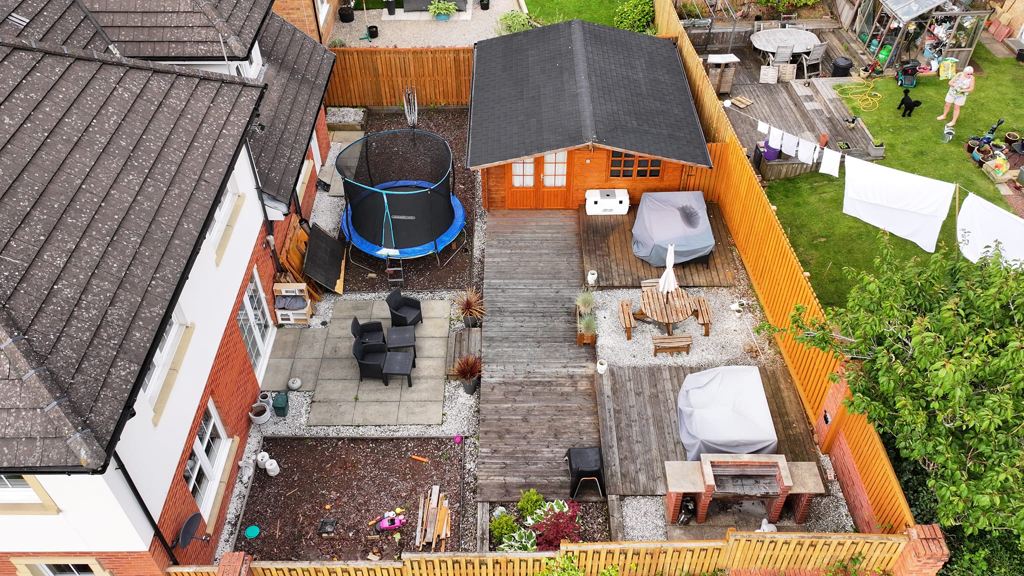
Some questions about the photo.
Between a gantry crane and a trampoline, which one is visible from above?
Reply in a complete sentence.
The one in the frame is a trampoline.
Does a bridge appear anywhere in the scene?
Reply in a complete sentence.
No, I find no bridge anywhere in the image.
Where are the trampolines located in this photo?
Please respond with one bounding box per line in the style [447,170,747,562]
[335,132,467,276]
